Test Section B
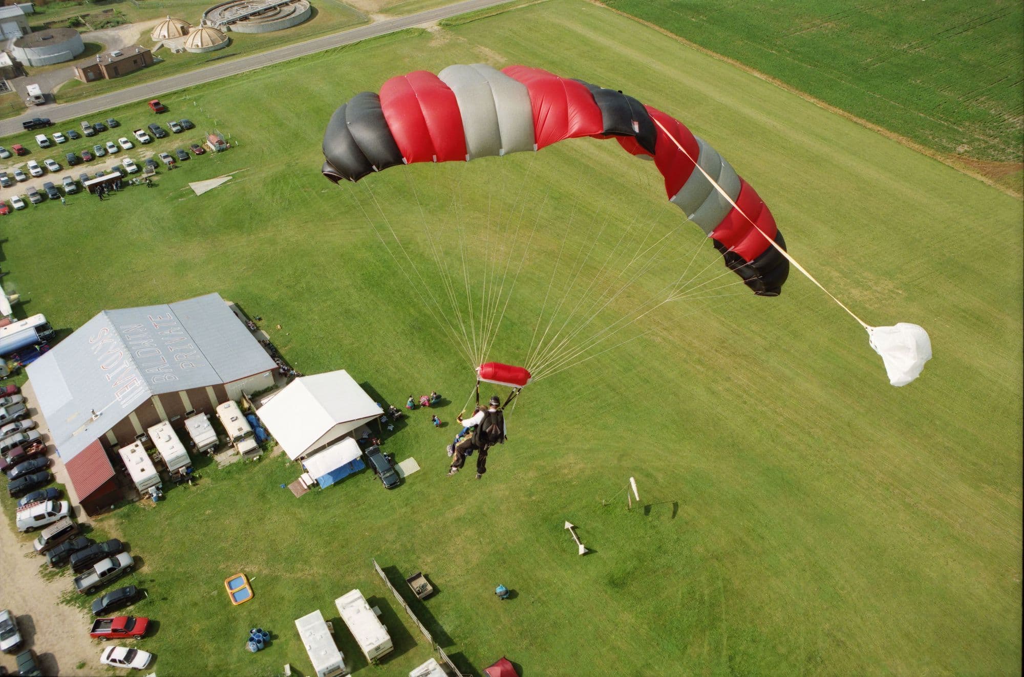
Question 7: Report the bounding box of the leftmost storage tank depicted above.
[14,27,84,66]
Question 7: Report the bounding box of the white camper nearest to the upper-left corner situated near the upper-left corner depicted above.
[27,84,47,109]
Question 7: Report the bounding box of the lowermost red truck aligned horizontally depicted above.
[85,614,154,645]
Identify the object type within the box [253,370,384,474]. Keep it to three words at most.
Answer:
building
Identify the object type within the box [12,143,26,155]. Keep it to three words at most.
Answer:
vehicle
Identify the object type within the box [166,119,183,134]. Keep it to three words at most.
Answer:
vehicle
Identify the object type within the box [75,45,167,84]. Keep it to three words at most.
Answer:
building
